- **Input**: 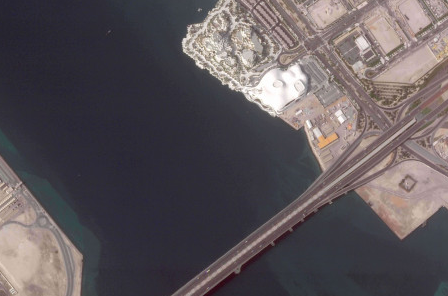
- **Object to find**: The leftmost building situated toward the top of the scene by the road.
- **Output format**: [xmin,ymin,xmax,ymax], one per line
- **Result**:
[184,0,278,115]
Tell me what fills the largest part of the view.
water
